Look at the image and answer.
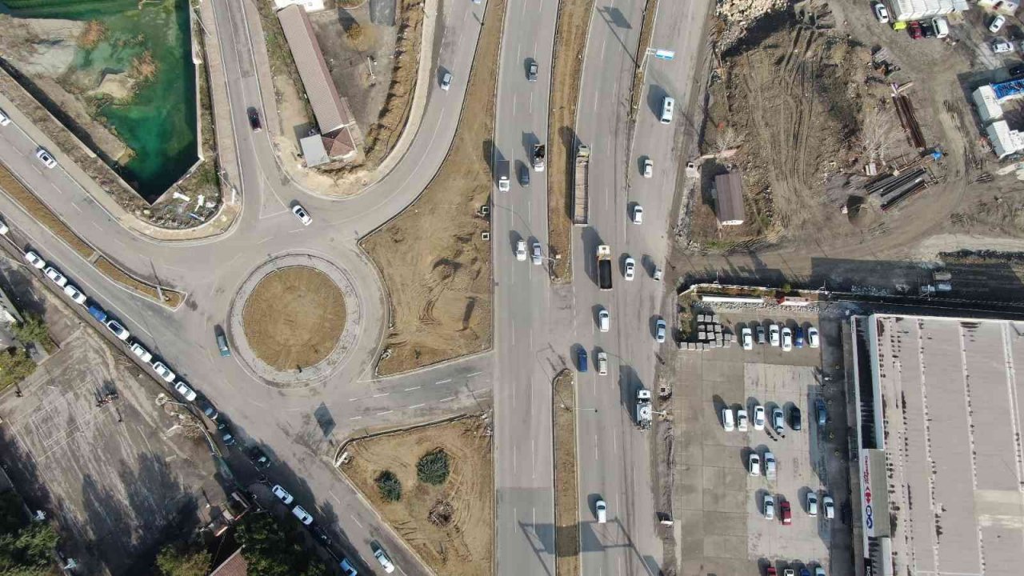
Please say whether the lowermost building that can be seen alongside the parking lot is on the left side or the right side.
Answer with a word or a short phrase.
right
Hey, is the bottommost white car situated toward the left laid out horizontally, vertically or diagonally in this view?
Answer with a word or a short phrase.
diagonally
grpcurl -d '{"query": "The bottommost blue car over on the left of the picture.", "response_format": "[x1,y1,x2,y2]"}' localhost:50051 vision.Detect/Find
[338,556,359,576]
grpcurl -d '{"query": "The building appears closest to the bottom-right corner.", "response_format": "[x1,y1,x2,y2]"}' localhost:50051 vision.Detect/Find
[826,314,1024,576]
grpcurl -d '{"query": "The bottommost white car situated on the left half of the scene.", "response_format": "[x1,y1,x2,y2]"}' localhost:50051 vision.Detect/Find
[373,548,395,573]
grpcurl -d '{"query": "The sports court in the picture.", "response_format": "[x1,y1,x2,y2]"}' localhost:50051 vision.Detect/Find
[8,376,122,462]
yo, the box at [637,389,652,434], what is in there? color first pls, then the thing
white vehicle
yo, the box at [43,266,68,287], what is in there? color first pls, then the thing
white car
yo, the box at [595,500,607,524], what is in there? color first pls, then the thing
white vehicle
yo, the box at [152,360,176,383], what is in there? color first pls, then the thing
white car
